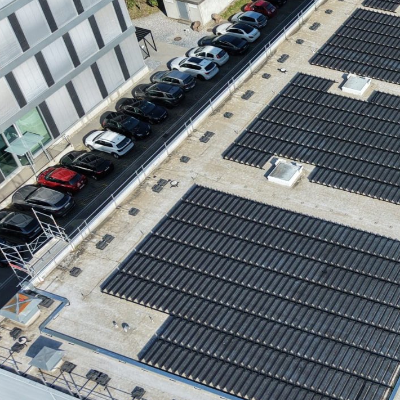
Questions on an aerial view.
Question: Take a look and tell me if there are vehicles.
Yes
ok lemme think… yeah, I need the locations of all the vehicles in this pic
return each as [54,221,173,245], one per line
[214,22,261,45]
[191,46,228,69]
[227,8,269,33]
[59,150,117,183]
[39,168,92,201]
[243,0,278,20]
[0,237,20,270]
[115,96,170,128]
[13,188,74,223]
[199,34,247,58]
[0,210,49,246]
[153,71,197,96]
[135,83,185,111]
[262,0,289,11]
[99,113,151,142]
[80,130,134,161]
[171,57,218,83]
